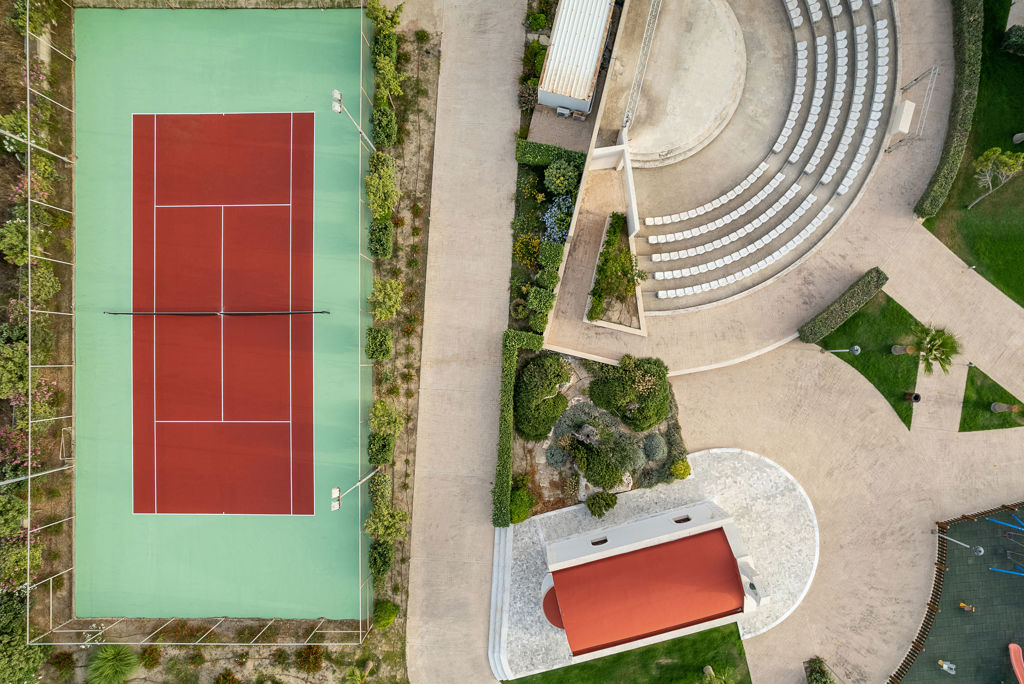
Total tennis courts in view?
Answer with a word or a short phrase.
1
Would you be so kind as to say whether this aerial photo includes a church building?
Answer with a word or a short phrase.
Yes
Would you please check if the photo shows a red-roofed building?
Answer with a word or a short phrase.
Yes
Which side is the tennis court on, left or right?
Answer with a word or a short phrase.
left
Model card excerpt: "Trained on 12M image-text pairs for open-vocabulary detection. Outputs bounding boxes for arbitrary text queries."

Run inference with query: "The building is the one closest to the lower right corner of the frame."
[540,501,763,662]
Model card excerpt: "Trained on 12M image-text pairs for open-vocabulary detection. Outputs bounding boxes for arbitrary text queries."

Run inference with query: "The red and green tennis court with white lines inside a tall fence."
[71,9,374,621]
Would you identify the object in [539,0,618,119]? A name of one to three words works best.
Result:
building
